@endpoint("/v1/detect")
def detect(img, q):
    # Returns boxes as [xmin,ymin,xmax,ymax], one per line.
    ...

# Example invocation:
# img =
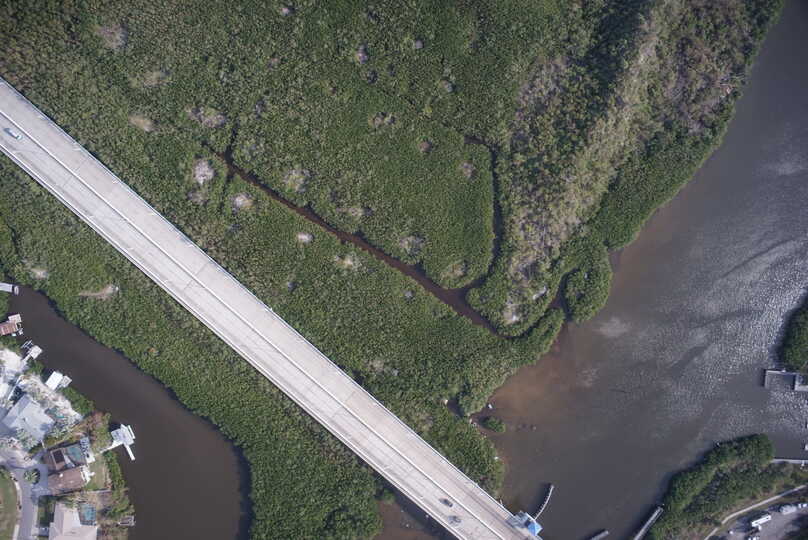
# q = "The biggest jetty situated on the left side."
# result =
[99,423,137,461]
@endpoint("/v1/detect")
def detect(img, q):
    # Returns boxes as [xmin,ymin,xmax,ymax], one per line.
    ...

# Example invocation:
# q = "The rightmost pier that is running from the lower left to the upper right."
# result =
[626,504,664,540]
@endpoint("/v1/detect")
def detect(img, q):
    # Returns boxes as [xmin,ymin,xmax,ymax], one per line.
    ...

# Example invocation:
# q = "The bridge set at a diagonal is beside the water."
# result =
[0,76,541,540]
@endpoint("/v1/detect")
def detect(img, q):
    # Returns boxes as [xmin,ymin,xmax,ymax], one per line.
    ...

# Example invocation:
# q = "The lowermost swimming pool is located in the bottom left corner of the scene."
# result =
[80,503,97,527]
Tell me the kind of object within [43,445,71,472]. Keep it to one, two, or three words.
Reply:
building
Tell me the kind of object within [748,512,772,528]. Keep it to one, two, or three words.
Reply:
camper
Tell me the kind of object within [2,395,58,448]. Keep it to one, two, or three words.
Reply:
house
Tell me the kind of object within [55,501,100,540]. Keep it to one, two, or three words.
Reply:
house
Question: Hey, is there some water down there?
Yes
